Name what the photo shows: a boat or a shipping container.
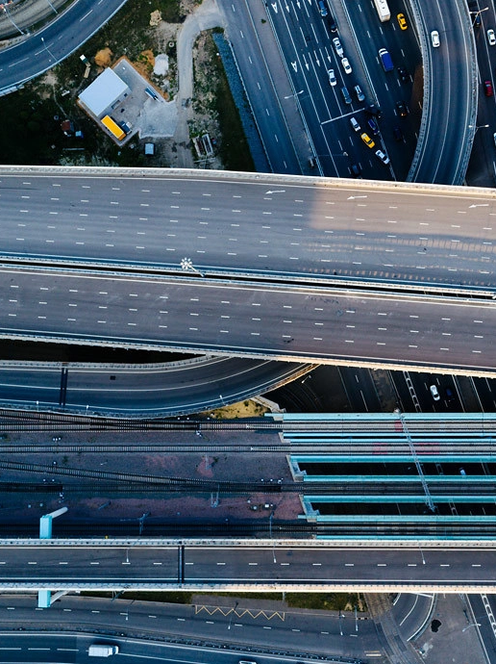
shipping container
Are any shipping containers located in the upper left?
Yes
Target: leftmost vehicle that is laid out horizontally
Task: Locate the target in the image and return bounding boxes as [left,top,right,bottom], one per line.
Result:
[86,645,118,659]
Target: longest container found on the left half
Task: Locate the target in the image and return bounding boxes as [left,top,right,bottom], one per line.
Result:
[101,115,128,143]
